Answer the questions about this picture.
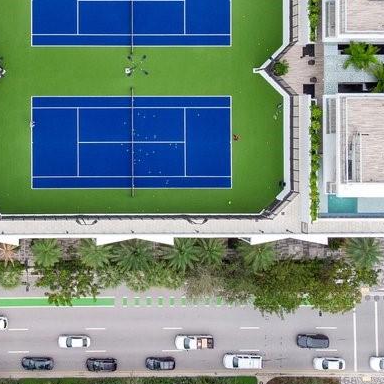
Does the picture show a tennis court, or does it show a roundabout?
tennis court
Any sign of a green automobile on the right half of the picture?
No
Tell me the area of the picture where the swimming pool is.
right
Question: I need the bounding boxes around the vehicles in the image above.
[311,355,345,371]
[57,333,90,349]
[295,332,331,349]
[221,352,266,372]
[0,314,8,330]
[145,355,177,371]
[86,356,118,373]
[368,355,384,371]
[21,355,54,372]
[174,333,216,351]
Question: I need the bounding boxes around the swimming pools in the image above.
[317,193,384,217]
